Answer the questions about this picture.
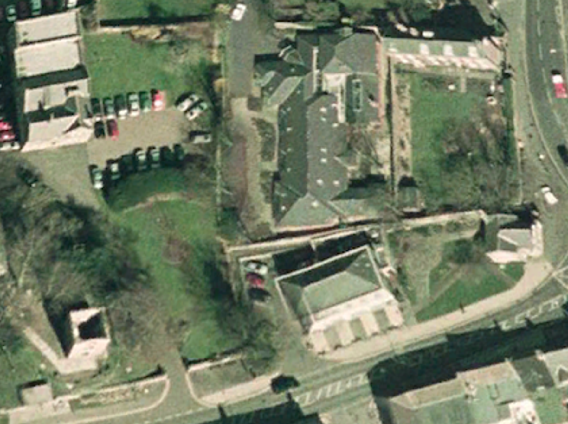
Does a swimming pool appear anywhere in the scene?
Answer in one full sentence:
No, no swimming pool is visible in the view.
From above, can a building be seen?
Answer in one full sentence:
Yes, a building is visible in the scene.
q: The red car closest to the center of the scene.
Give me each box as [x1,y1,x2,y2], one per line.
[244,273,266,286]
